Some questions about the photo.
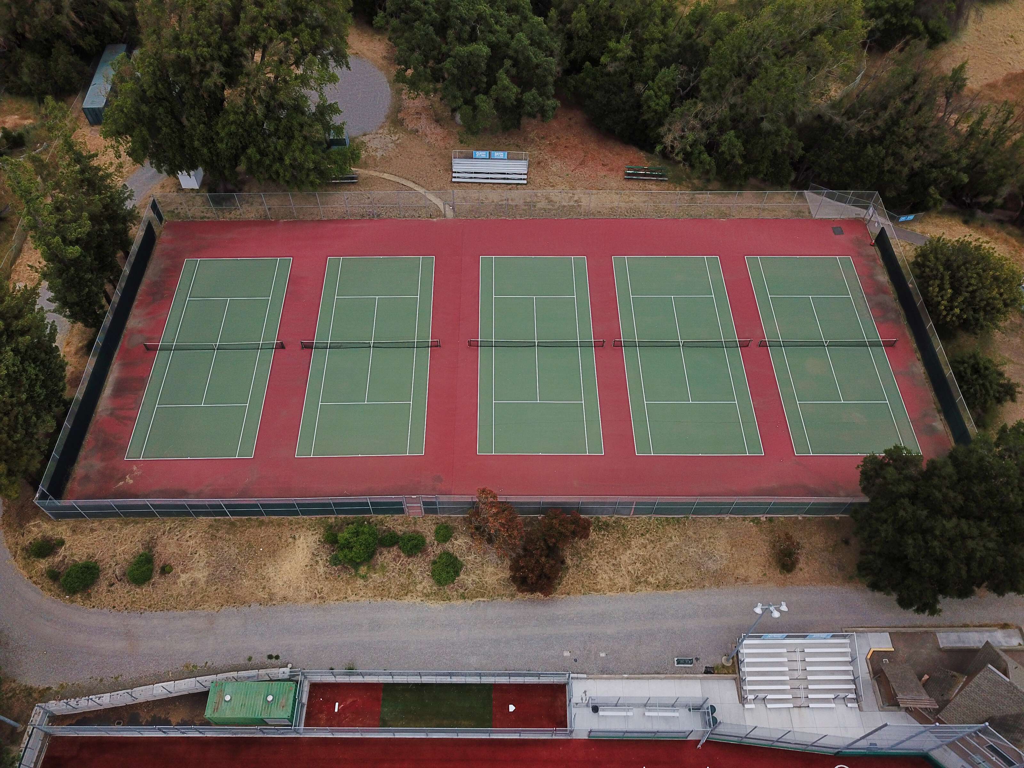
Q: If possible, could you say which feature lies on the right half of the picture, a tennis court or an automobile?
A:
tennis court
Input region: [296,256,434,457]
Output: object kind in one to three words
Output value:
tennis court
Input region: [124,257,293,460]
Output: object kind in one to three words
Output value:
tennis court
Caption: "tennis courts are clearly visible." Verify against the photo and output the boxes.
[477,255,604,456]
[124,257,293,460]
[296,256,434,457]
[745,256,922,456]
[613,256,763,456]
